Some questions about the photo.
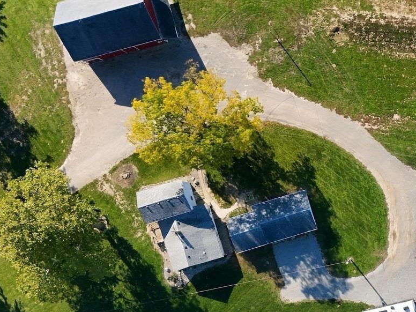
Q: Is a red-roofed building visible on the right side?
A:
No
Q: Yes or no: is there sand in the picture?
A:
No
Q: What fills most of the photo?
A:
grass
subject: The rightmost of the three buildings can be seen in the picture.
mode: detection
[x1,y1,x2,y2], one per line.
[228,190,317,253]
